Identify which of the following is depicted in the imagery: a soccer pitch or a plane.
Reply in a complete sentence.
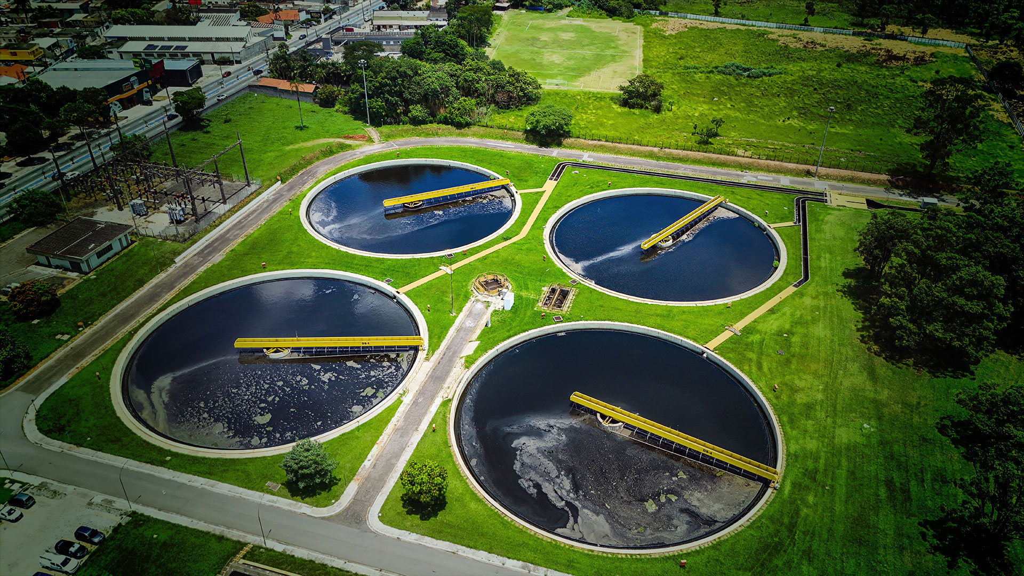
There is a soccer pitch in the scene.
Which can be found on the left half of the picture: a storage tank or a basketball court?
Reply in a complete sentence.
The one visible on the left half of the picture is a storage tank.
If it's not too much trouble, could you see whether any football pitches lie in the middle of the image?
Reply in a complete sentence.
No, no football pitch can be made out in the middle of the image.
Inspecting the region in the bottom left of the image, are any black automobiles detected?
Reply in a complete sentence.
Yes, a black automobile shows up in the bottom left of the image.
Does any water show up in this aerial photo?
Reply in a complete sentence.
Yes, water can be seen from above here.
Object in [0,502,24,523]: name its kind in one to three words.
car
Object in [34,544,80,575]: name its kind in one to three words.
truck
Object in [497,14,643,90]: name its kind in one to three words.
soccer field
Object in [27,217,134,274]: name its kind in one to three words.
building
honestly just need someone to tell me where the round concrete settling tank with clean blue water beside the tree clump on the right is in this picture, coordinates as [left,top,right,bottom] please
[541,187,788,309]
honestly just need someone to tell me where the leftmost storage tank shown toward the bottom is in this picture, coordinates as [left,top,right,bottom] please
[107,268,431,463]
